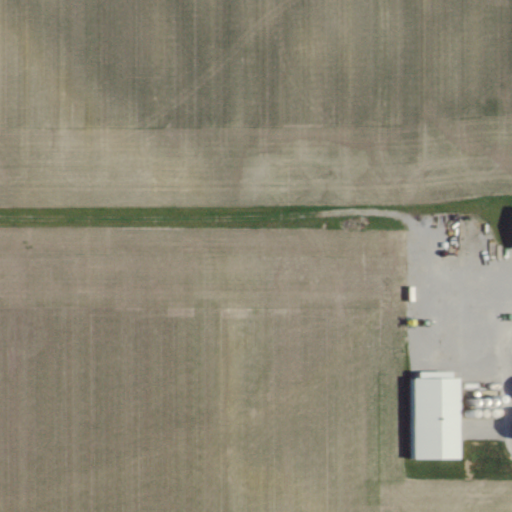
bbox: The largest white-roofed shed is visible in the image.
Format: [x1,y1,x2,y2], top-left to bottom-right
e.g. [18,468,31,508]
[410,372,462,460]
